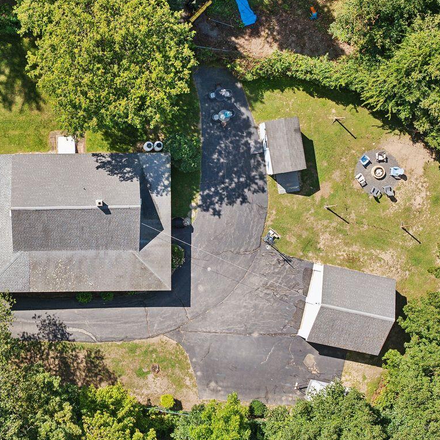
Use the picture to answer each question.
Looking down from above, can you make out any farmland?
No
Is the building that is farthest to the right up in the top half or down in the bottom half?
bottom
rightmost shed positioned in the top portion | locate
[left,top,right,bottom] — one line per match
[261,116,306,175]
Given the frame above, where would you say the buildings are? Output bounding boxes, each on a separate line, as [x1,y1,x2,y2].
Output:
[261,116,306,175]
[299,265,395,356]
[0,136,172,293]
